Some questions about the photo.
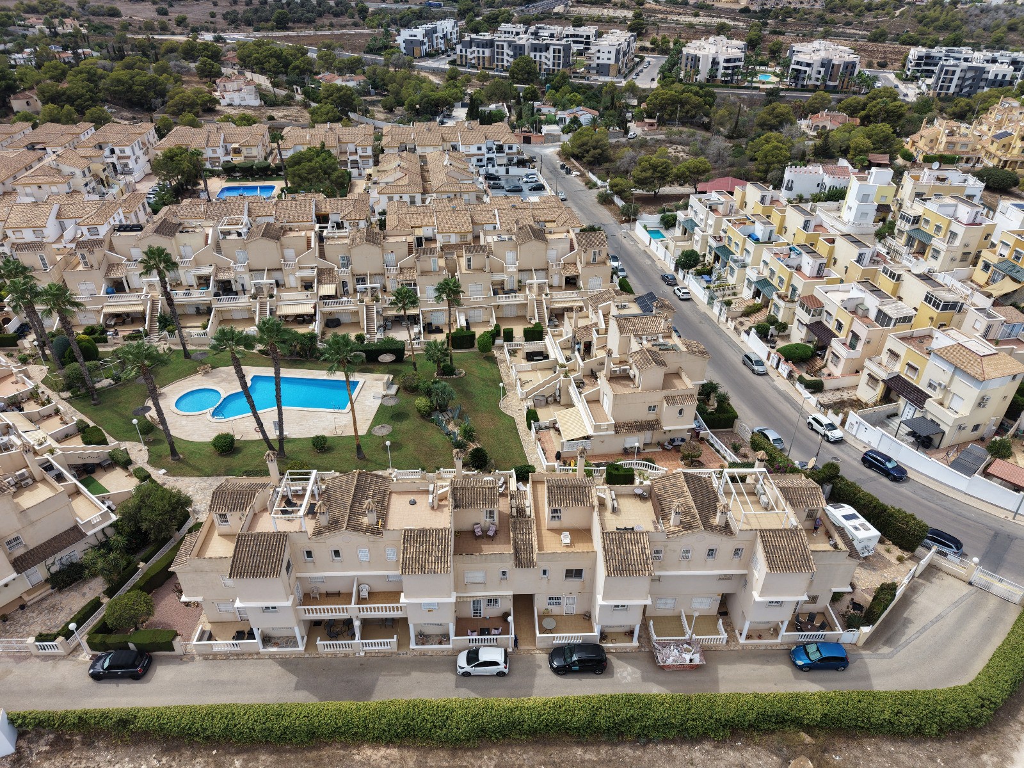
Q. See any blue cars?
Yes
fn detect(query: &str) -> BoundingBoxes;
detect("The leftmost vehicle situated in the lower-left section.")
[89,652,151,684]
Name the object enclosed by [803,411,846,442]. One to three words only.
car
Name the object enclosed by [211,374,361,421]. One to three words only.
swimming pool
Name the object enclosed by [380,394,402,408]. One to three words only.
umbrella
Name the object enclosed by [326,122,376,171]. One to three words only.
house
